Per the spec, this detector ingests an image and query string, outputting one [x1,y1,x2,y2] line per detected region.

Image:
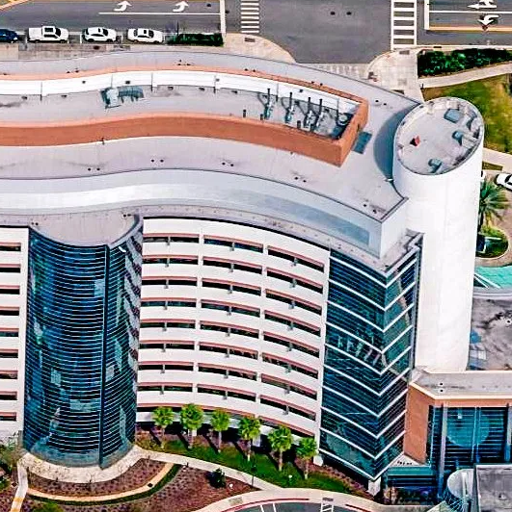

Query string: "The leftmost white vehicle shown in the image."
[27,25,69,42]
